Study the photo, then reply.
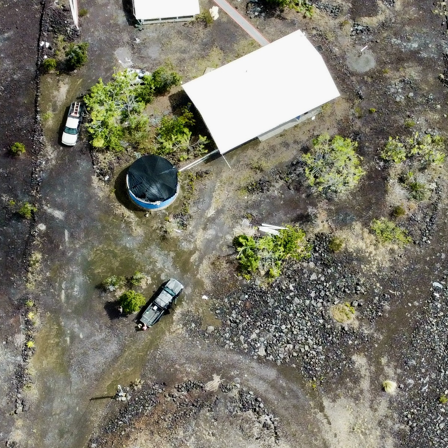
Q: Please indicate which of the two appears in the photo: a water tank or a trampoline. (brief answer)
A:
water tank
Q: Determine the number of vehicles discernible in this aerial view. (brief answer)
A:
two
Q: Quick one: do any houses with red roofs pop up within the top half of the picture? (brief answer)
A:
No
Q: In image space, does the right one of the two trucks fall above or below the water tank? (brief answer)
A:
below it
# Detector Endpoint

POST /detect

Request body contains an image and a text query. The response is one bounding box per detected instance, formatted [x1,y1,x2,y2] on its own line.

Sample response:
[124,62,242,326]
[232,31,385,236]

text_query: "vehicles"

[142,276,185,331]
[60,100,86,147]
